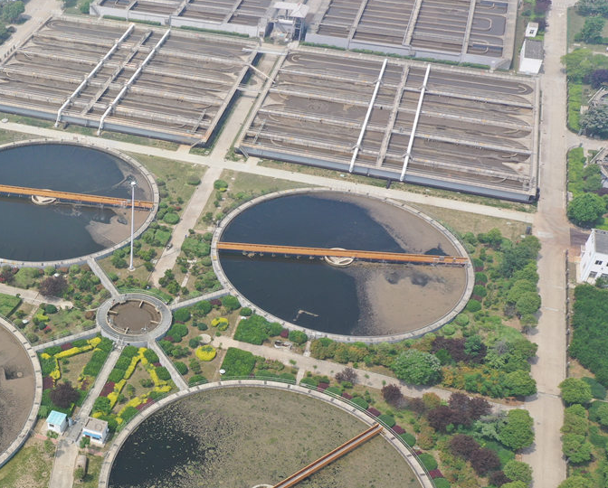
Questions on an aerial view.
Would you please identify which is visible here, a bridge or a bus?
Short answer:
bridge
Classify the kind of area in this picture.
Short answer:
industrial area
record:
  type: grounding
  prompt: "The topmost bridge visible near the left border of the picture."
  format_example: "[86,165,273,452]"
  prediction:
[0,184,156,210]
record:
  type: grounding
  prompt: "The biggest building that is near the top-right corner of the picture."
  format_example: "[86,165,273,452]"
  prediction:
[519,38,543,74]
